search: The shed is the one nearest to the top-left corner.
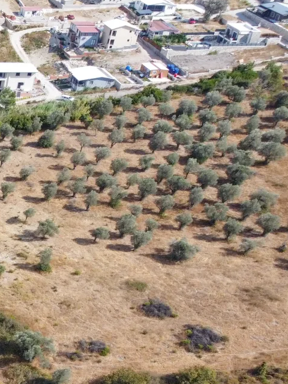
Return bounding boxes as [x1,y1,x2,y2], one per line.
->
[15,3,54,17]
